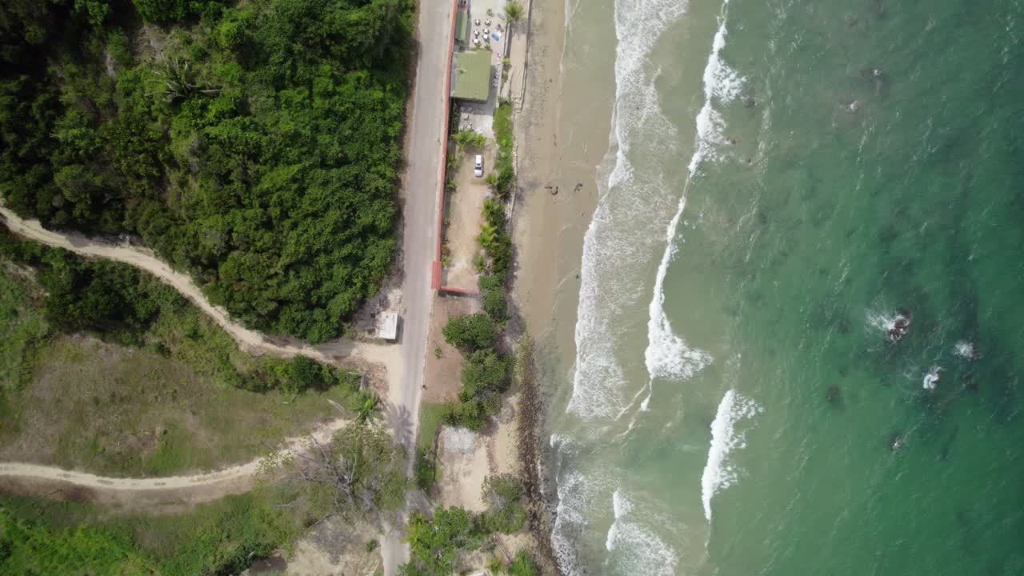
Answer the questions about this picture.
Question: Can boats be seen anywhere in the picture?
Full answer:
No, I can't see a single boat in this photo.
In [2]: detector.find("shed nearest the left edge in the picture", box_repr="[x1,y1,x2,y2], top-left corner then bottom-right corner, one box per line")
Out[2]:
[378,309,399,339]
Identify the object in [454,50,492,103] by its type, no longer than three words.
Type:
house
